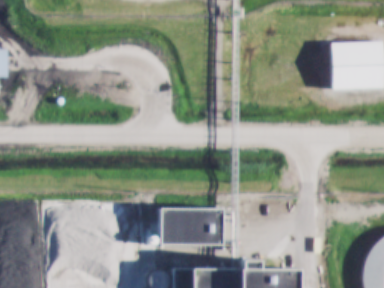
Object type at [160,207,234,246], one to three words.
building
